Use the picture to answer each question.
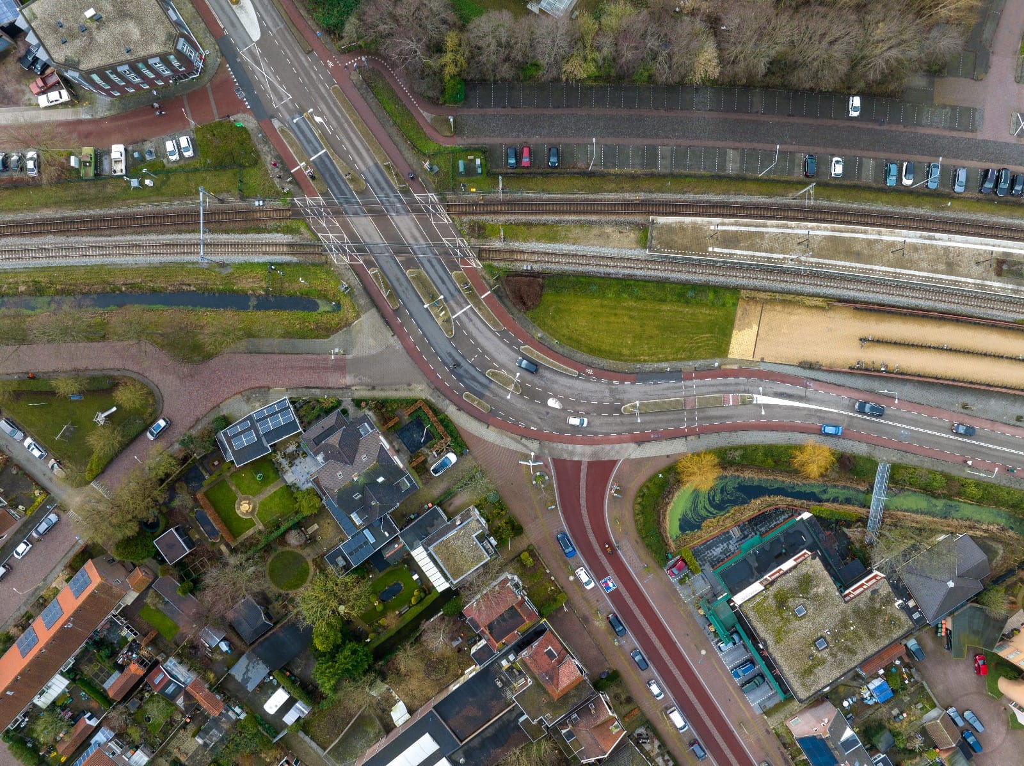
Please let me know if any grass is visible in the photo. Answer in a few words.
Yes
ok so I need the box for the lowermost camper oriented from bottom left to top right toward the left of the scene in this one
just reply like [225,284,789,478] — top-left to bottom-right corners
[260,689,289,717]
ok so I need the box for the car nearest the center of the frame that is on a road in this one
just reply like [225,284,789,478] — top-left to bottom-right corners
[513,356,541,375]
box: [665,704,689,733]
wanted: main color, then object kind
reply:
white vehicle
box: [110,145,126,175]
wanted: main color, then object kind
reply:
white vehicle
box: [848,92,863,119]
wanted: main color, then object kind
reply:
white car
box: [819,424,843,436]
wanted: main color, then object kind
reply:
blue vehicle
